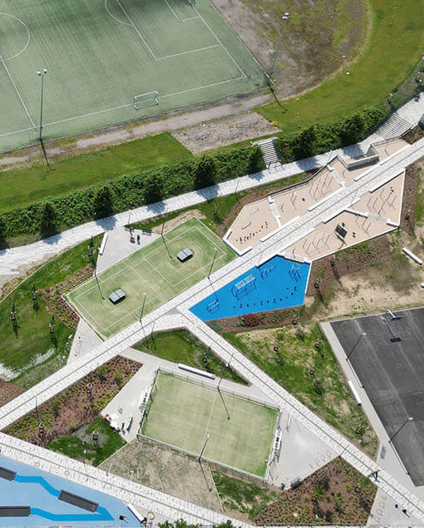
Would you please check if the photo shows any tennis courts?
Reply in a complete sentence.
Yes, there's a tennis court down there.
